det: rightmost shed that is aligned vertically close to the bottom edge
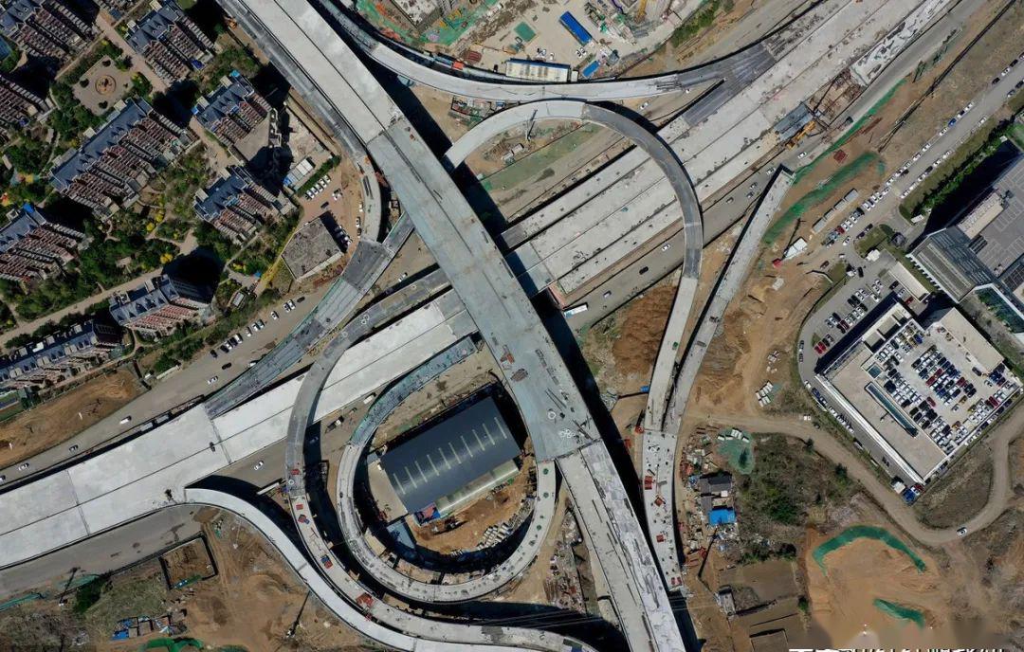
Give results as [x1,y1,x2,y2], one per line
[716,587,737,621]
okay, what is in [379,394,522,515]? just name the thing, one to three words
warehouse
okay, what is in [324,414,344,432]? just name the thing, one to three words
vehicle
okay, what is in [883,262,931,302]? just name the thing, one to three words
shed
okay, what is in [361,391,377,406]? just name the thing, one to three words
vehicle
